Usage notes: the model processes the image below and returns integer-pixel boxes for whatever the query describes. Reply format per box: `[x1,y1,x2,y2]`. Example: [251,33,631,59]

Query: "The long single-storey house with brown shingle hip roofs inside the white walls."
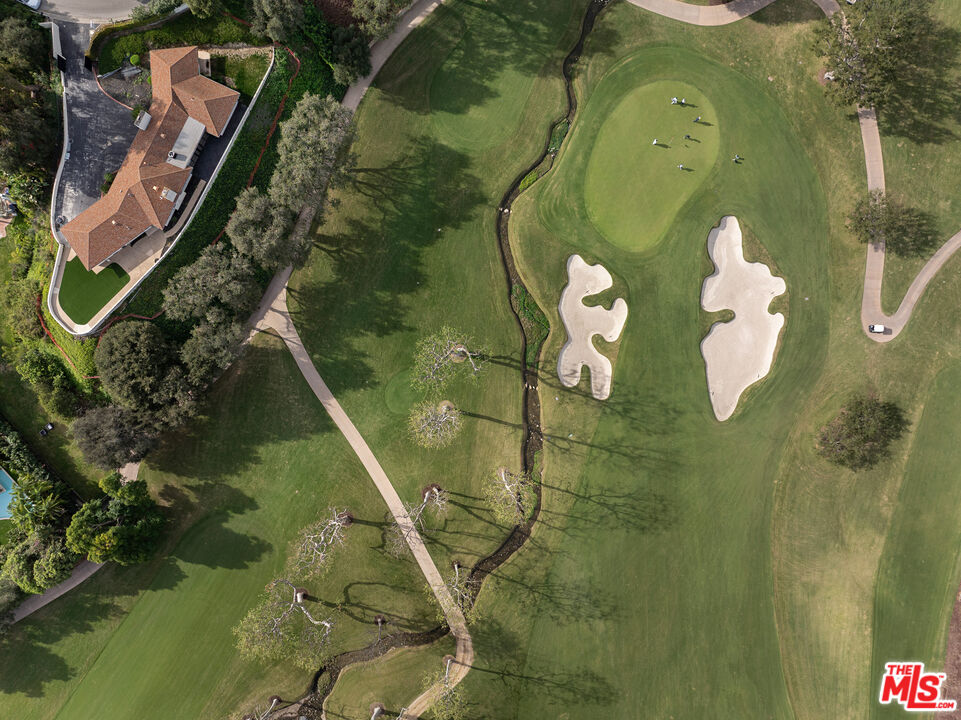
[61,46,241,271]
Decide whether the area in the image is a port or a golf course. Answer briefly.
golf course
